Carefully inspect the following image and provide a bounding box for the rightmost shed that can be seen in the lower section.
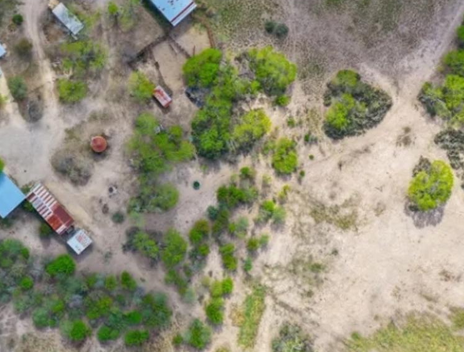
[67,229,92,255]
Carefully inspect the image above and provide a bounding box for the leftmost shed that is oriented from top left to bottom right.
[26,184,75,234]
